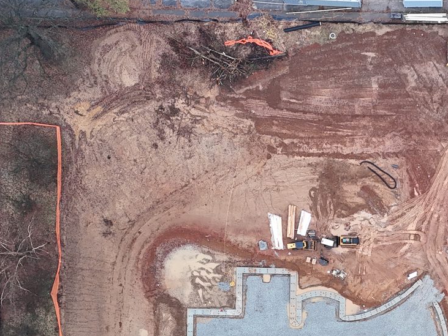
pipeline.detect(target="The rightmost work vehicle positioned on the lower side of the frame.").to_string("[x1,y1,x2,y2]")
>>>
[335,234,357,247]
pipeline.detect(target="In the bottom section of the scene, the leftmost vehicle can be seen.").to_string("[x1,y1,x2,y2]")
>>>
[289,239,318,252]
